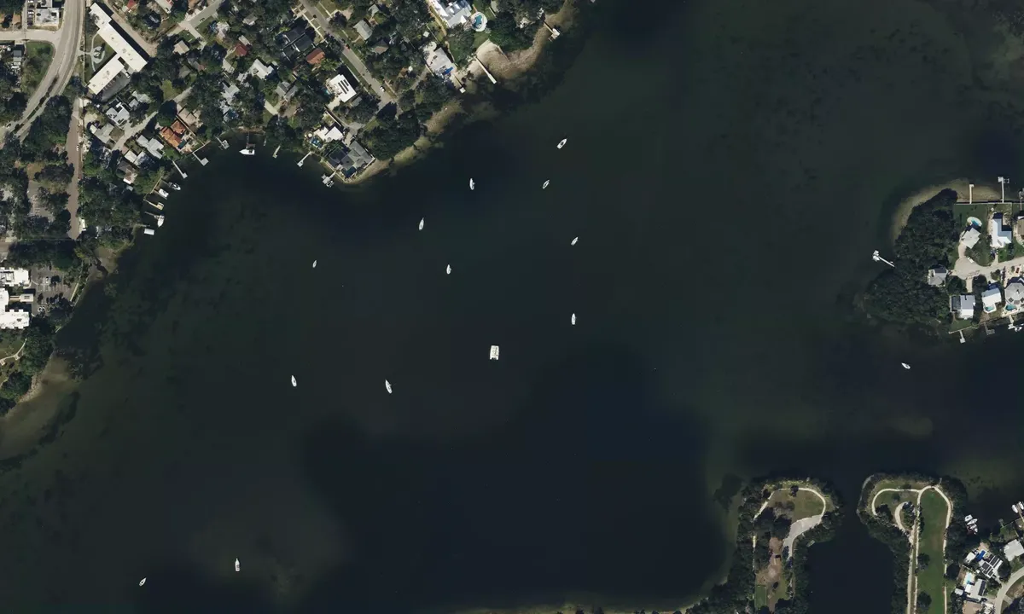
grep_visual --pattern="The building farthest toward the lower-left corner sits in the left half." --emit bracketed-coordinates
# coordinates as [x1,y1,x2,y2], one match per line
[0,288,29,330]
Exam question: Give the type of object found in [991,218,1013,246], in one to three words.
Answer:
house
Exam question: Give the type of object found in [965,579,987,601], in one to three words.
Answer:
house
